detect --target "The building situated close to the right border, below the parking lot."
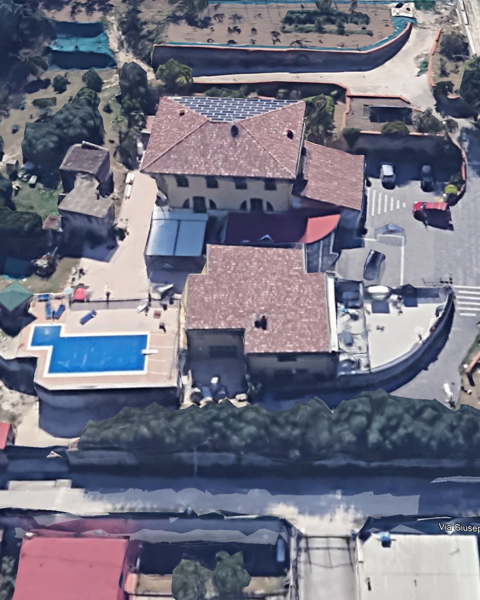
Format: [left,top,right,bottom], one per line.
[354,532,480,600]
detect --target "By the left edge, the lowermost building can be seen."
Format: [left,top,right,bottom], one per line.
[7,532,134,600]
